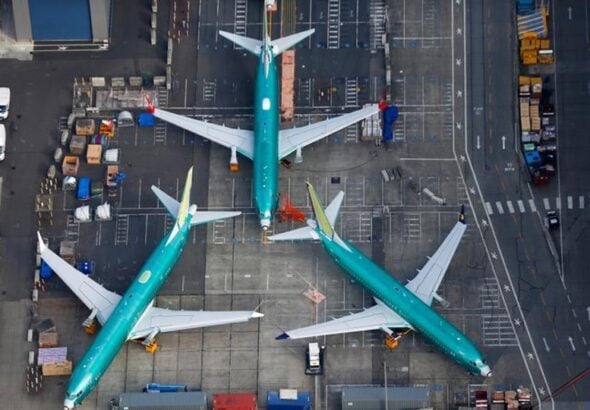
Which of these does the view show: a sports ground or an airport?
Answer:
airport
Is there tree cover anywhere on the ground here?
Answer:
No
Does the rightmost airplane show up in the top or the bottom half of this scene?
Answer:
bottom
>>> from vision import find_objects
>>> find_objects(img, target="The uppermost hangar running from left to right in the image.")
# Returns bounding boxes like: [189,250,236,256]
[13,0,108,44]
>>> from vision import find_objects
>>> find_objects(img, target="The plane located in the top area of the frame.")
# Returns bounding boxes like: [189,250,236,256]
[143,0,390,229]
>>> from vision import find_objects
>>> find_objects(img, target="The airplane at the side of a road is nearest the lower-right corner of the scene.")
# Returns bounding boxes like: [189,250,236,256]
[267,182,490,377]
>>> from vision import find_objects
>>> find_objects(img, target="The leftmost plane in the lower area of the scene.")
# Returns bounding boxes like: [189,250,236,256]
[33,167,267,410]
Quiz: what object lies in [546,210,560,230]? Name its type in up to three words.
vehicle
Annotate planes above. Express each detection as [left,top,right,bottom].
[267,182,490,377]
[33,167,267,410]
[143,0,390,229]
